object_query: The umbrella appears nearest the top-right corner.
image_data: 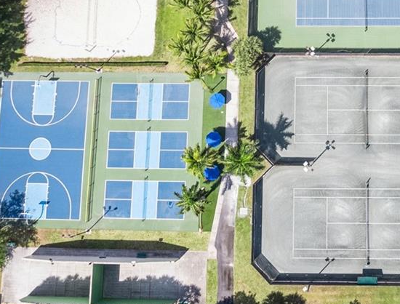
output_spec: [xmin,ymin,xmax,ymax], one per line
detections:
[209,92,225,108]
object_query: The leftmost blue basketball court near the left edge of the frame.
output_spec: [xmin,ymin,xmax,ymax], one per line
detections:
[0,81,89,221]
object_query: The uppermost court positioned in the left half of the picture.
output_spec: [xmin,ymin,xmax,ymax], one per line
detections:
[24,0,158,58]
